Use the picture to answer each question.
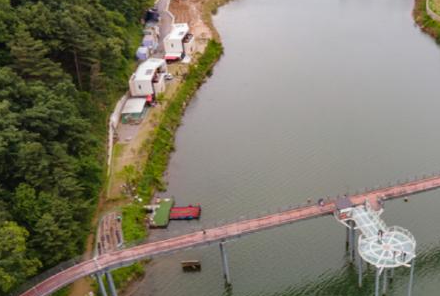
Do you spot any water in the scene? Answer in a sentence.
Yes, water can be seen from above here.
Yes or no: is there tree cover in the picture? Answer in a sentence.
Yes, tree cover shows up in the scene.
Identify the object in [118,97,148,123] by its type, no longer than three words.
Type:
shed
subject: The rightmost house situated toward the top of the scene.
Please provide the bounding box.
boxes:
[162,29,197,64]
